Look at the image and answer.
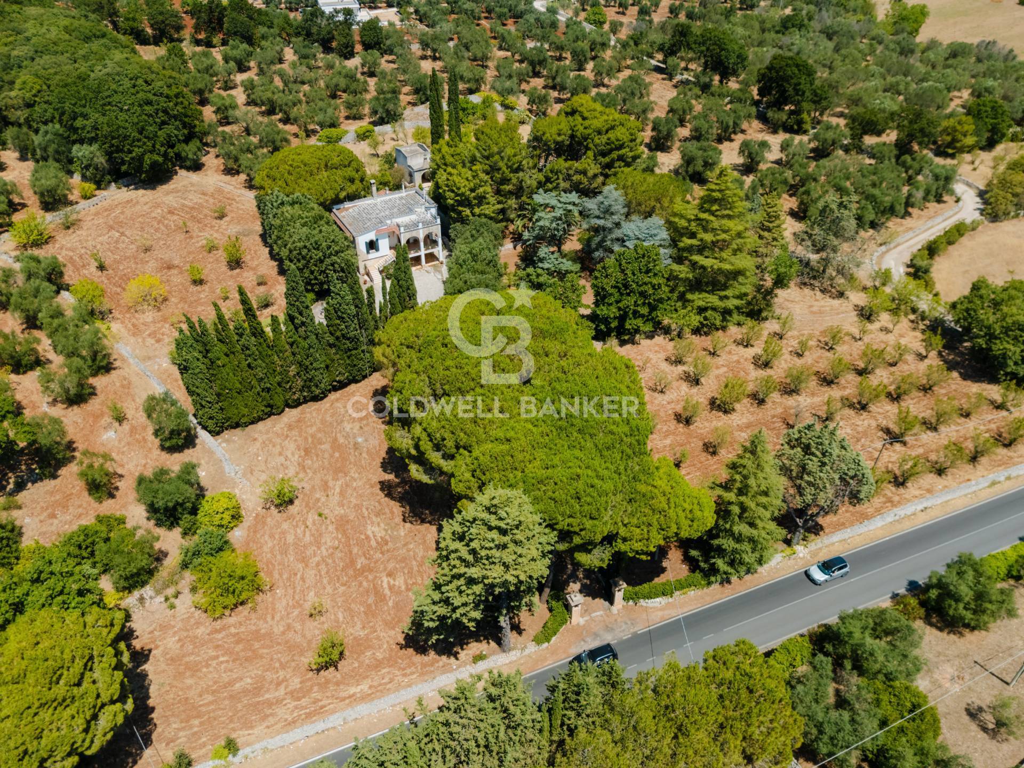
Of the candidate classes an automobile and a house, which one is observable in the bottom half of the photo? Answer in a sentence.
What appears in the bottom half of the photo is an automobile.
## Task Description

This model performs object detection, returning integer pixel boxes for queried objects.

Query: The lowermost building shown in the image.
[331,179,442,284]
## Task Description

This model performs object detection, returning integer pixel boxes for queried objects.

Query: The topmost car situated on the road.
[804,555,853,586]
